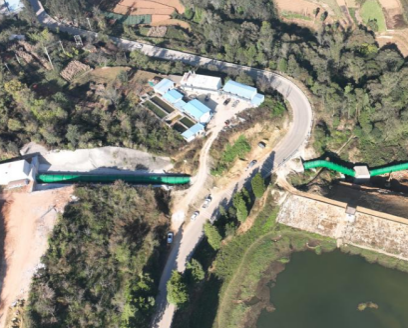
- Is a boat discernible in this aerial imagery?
No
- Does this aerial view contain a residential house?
Yes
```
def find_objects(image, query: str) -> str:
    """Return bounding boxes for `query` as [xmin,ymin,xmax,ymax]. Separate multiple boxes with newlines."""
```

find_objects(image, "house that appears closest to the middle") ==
[179,118,209,143]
